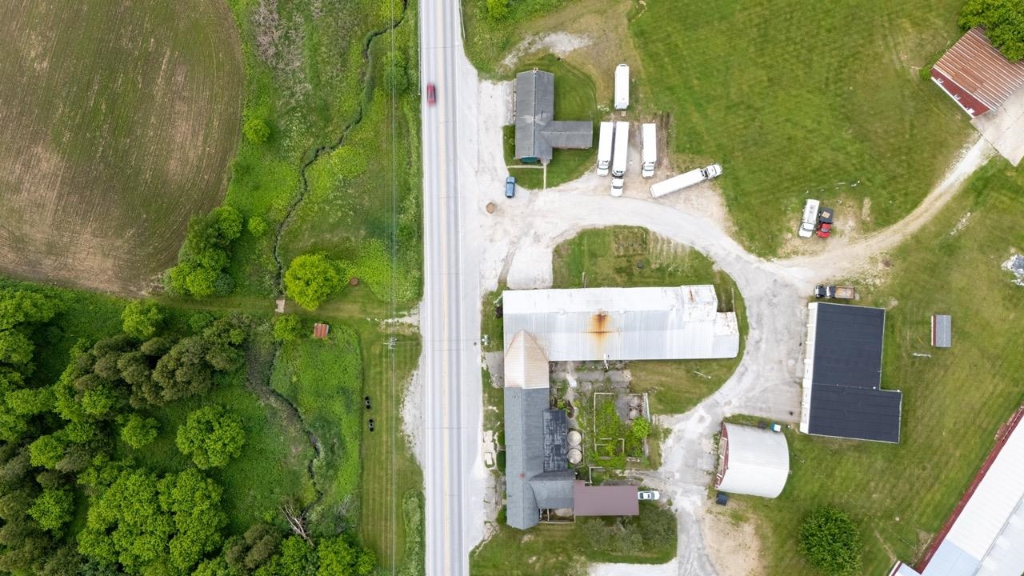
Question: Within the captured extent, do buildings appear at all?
Yes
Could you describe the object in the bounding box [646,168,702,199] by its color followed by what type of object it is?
white trailer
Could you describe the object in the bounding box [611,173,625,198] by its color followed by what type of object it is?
white vehicle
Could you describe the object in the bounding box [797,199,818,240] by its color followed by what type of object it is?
white truck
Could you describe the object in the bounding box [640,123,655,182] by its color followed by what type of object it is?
white vehicle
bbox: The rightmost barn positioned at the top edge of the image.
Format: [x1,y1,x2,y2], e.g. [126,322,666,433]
[930,28,1024,117]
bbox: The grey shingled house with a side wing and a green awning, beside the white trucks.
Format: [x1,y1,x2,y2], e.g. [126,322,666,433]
[515,69,593,166]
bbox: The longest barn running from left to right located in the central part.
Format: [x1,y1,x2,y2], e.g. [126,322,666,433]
[503,286,738,369]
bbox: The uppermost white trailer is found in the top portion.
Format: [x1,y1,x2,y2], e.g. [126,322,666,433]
[613,66,628,114]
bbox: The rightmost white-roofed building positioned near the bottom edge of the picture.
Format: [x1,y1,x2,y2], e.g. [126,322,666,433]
[916,399,1024,576]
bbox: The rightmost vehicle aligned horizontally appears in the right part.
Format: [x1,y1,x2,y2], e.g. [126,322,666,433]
[818,285,855,299]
